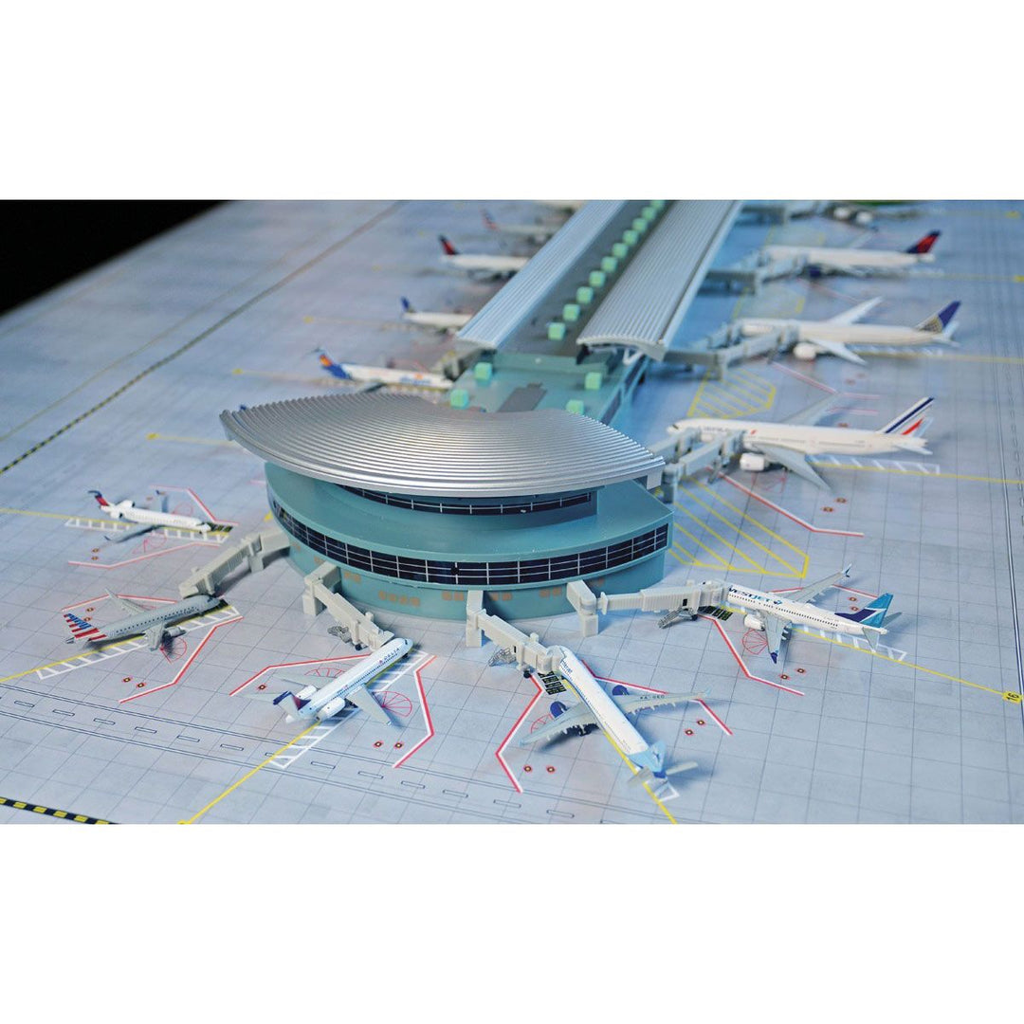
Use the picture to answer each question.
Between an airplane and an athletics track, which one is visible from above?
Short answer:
airplane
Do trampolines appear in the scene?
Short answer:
No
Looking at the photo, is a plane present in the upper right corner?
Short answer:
Yes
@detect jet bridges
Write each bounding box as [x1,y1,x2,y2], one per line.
[433,346,484,383]
[632,421,747,507]
[301,560,401,659]
[180,526,292,603]
[708,243,809,294]
[465,589,565,682]
[565,579,735,639]
[654,316,784,381]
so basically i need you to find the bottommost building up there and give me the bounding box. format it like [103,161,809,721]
[219,391,676,618]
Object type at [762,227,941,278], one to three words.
airplane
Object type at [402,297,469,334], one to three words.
airplane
